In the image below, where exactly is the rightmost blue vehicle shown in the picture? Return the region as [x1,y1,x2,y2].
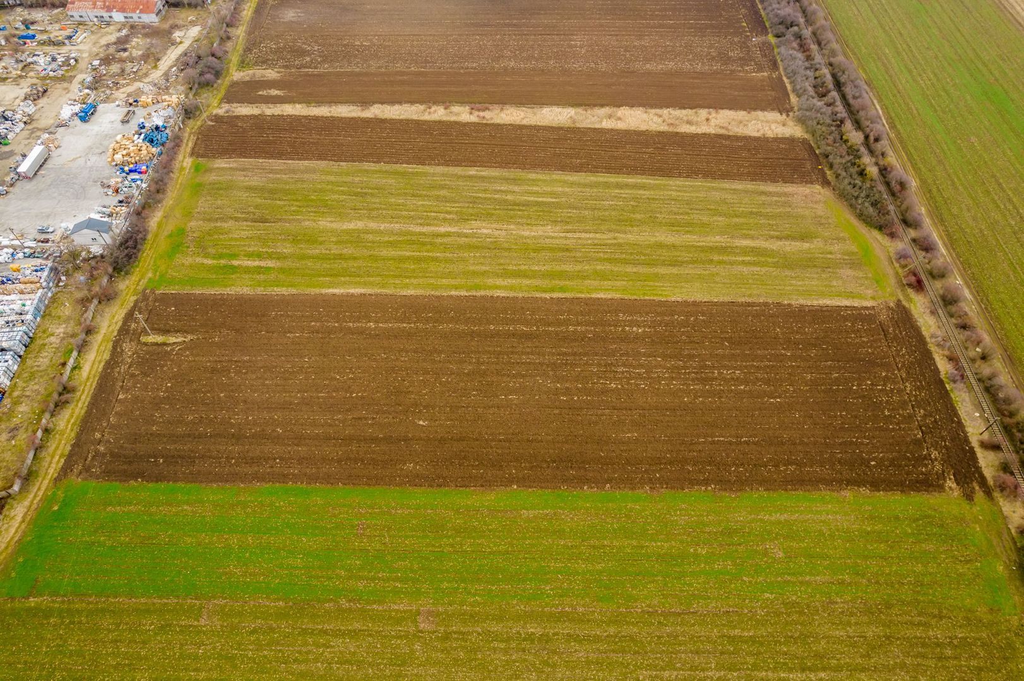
[73,100,100,122]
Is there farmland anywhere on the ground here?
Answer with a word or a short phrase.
Yes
